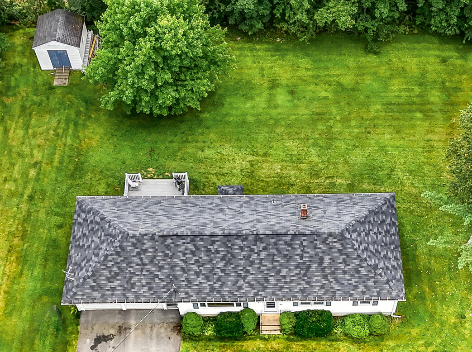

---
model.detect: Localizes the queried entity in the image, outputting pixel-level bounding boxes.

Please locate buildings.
[60,186,407,316]
[33,6,88,69]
